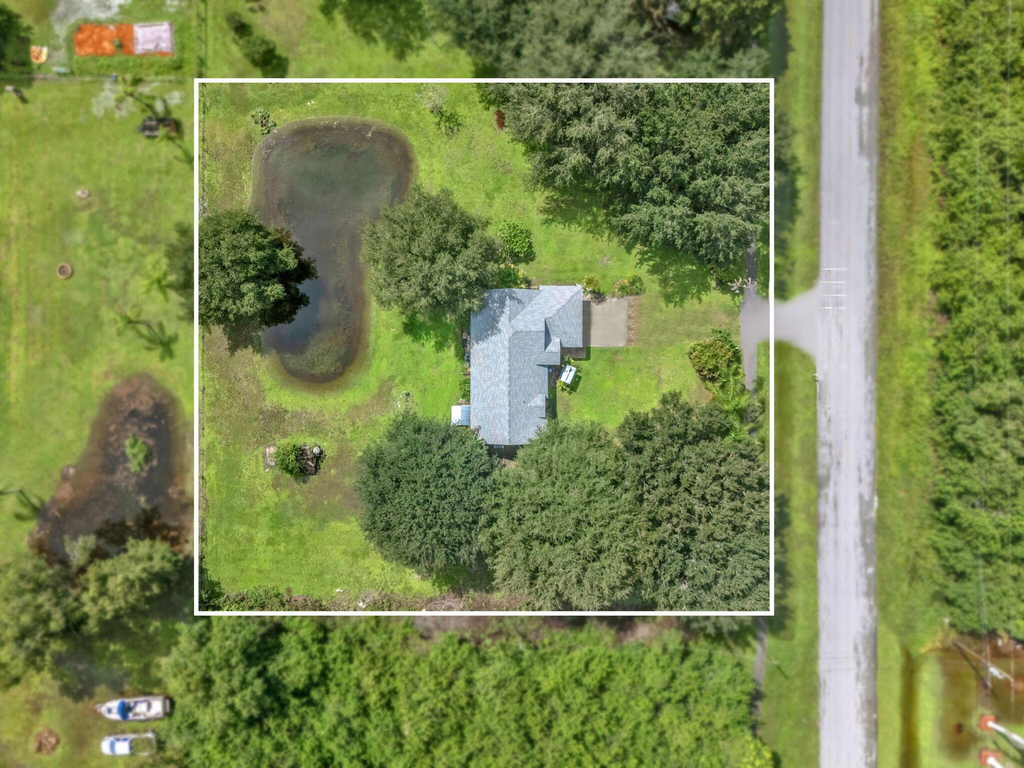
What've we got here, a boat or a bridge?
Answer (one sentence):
I can see a boat in this picture.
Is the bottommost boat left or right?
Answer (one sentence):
You can find the bottommost boat on the left side of the picture.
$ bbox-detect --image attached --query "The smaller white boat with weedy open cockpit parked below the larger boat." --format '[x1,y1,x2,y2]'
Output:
[101,730,158,755]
